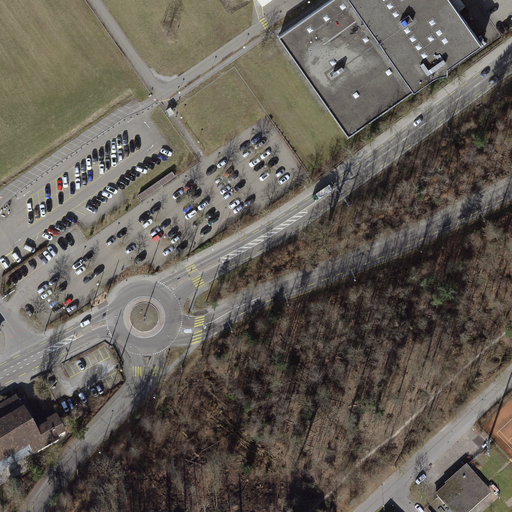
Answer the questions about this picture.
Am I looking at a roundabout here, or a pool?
roundabout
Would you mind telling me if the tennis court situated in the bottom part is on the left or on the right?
right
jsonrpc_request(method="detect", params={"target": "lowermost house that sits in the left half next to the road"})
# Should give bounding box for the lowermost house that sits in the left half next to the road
[0,404,67,471]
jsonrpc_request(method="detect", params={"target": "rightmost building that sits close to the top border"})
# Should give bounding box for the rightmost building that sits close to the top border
[356,0,482,96]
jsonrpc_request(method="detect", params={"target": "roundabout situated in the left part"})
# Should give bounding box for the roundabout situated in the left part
[106,280,183,356]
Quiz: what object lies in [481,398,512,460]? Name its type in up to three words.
tennis court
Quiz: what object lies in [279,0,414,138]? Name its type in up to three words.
building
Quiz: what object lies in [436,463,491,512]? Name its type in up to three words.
building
